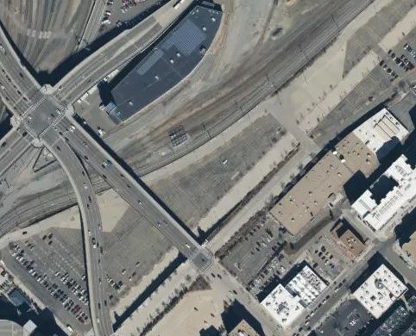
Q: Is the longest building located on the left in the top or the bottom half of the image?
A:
top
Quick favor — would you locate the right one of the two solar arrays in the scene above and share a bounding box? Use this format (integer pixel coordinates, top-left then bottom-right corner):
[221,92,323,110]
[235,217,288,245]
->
[181,20,206,55]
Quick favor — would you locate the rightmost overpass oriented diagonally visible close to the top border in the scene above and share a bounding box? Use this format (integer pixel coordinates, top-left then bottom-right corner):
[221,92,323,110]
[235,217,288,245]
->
[53,0,196,103]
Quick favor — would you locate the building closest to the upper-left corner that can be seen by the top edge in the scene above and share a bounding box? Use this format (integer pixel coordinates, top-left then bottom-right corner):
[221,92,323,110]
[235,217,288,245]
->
[108,6,222,124]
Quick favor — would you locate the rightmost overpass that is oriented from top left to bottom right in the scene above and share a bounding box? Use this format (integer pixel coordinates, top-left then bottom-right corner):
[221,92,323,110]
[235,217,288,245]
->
[62,113,228,283]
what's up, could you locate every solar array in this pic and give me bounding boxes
[181,20,206,55]
[138,48,163,74]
